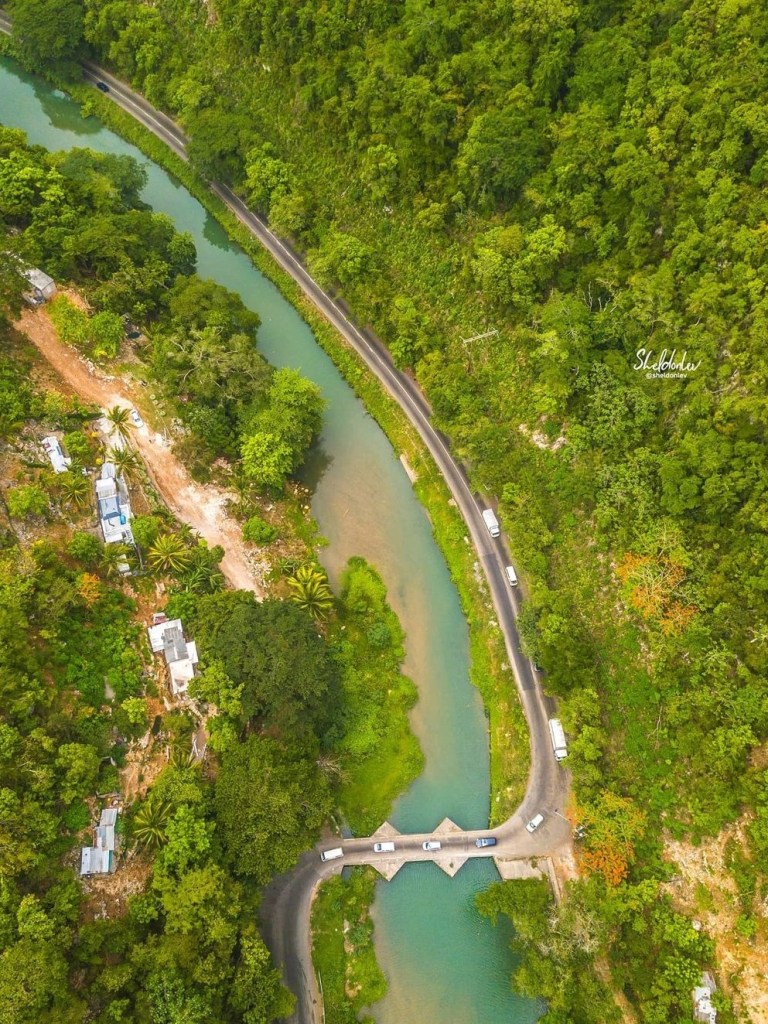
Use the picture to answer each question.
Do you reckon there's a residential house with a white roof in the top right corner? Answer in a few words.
No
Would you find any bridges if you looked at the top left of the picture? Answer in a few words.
No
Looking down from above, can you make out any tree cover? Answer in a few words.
Yes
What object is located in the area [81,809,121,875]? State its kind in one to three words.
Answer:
house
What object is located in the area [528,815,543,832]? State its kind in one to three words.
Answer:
car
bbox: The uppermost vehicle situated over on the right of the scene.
[483,508,500,535]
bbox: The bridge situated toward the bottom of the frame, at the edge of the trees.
[339,816,547,882]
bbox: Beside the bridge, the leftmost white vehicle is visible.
[321,847,342,861]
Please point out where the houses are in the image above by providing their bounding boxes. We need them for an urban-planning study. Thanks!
[687,969,717,1024]
[148,610,200,694]
[81,809,121,875]
[42,437,74,477]
[97,463,137,545]
[7,254,58,306]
